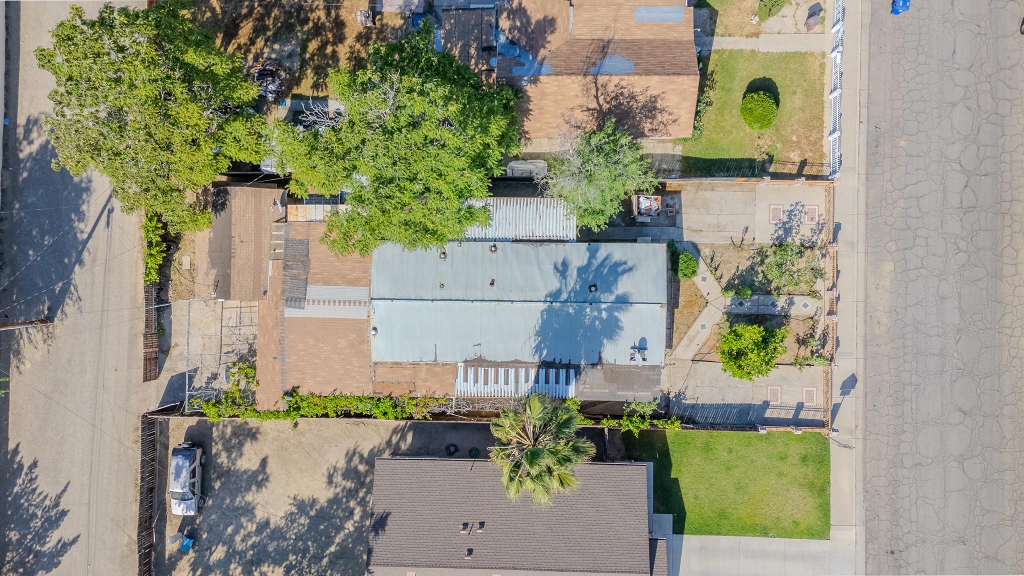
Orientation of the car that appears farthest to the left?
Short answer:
vertically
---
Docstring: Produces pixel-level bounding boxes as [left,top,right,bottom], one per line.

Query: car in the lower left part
[169,441,206,514]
